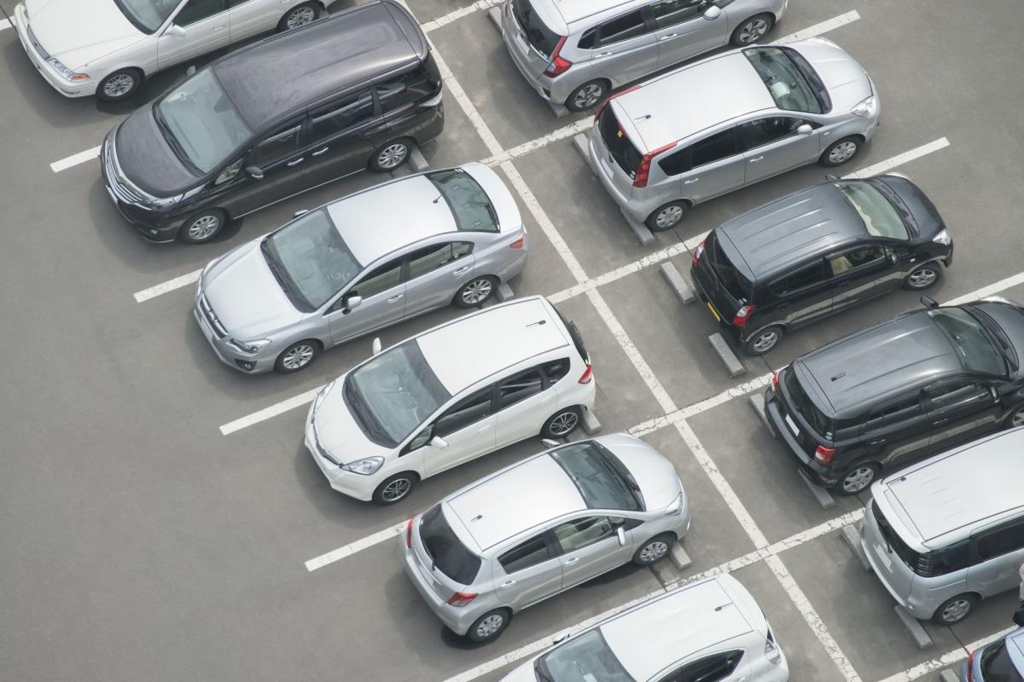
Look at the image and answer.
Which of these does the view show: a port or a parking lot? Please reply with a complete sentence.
It's a parking lot.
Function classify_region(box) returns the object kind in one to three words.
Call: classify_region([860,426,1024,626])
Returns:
car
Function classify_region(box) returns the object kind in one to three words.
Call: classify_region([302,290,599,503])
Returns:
car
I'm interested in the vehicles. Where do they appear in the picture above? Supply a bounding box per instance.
[764,297,1024,494]
[17,0,344,101]
[860,426,1024,626]
[505,0,786,108]
[969,625,1024,682]
[586,43,873,230]
[693,177,949,355]
[302,290,599,503]
[95,4,443,242]
[197,157,532,371]
[492,573,786,682]
[406,435,692,639]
